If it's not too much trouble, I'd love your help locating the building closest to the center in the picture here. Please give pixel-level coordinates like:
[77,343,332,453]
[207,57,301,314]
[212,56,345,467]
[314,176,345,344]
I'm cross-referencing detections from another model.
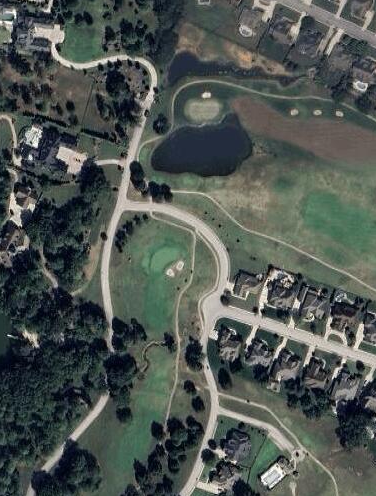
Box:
[234,266,260,295]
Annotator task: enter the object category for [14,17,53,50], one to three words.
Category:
house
